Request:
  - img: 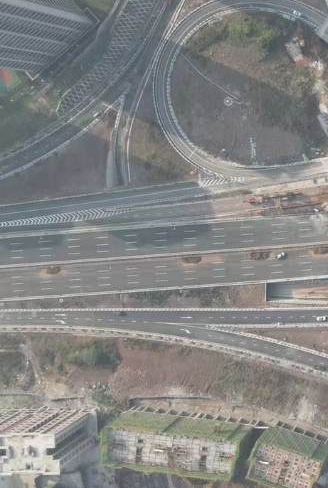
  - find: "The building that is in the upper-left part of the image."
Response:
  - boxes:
[0,0,94,74]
